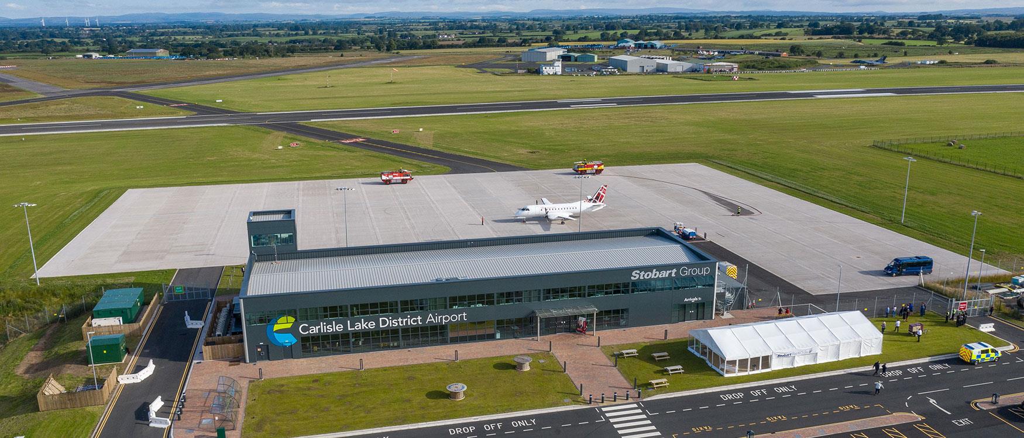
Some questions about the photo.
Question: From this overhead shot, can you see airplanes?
Yes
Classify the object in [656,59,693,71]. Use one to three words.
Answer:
building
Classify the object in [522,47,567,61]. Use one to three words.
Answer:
hangar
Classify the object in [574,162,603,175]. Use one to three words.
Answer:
vehicle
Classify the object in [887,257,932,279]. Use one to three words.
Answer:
vehicle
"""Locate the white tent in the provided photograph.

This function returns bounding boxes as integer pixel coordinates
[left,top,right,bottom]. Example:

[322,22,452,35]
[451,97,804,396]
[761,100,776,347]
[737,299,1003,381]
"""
[686,310,884,376]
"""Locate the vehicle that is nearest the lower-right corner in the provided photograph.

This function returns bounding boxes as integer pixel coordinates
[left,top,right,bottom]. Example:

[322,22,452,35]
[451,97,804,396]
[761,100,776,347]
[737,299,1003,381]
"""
[958,342,1003,364]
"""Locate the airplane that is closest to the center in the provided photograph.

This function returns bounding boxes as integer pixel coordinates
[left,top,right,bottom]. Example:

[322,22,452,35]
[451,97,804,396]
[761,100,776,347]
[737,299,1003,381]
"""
[513,186,602,223]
